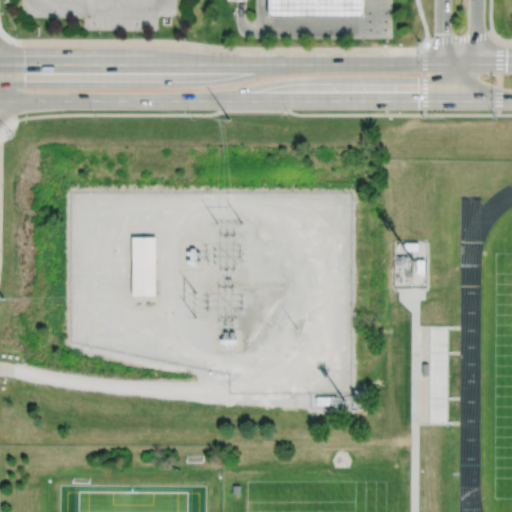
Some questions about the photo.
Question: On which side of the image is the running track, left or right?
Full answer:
The running track is on the right side of the image.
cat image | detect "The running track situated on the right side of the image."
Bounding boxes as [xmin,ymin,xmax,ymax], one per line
[462,180,512,512]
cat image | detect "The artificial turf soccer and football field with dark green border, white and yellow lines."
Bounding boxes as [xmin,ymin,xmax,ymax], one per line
[61,486,208,512]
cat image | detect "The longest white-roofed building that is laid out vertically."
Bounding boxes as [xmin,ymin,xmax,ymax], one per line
[132,238,156,298]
